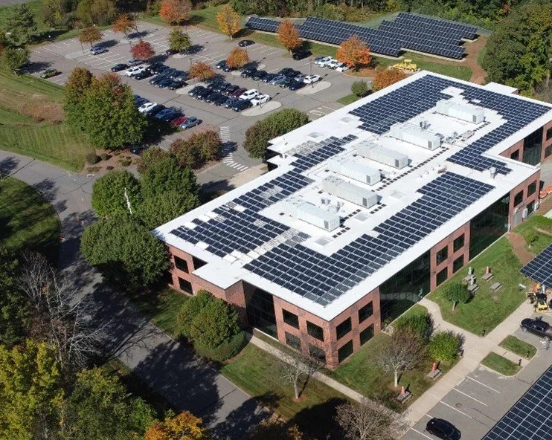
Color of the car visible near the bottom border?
black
